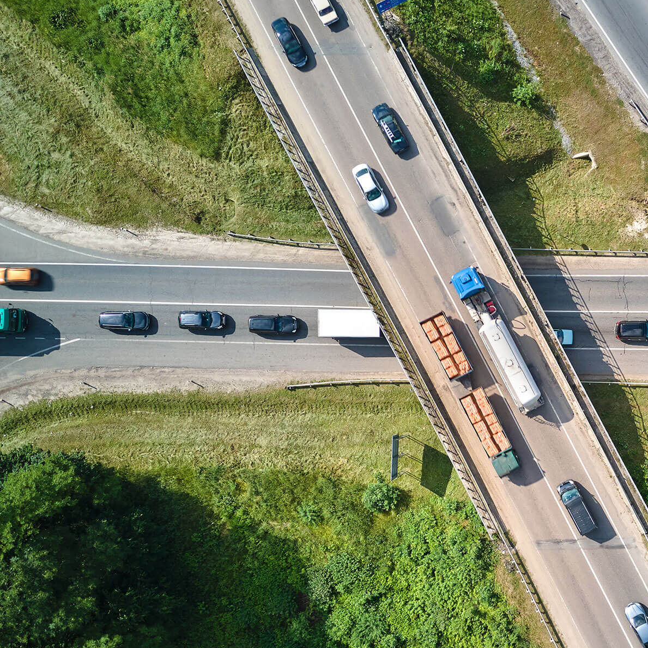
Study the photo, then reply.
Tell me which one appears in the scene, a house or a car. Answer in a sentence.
Looking from above, you can make out a car.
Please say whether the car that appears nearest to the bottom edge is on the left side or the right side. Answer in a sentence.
The car that appears nearest to the bottom edge sits on the right side.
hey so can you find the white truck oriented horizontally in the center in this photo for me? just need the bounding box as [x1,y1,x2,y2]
[317,309,384,337]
